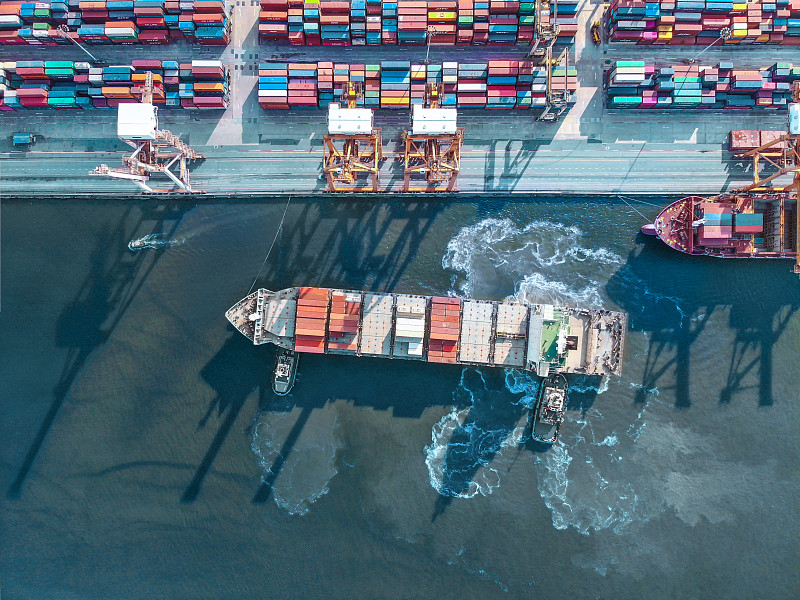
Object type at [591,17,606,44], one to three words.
work vehicle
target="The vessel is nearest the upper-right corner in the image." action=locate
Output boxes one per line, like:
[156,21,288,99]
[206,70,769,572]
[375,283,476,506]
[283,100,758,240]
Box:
[641,194,794,259]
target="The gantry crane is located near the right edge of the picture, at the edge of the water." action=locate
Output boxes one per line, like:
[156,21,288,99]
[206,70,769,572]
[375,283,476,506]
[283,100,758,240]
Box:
[729,80,800,277]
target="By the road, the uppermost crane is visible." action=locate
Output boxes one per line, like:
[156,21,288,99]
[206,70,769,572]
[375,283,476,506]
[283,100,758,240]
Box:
[524,0,559,55]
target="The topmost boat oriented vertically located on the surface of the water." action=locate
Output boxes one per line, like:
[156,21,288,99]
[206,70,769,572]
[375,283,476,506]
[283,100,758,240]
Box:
[273,349,301,398]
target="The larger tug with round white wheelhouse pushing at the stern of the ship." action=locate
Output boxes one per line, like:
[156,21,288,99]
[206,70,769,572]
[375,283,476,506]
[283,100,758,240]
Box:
[533,375,570,445]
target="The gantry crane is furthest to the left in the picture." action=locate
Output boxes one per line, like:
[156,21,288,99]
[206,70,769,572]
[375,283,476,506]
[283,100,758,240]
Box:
[82,79,207,191]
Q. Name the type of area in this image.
port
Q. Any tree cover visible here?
No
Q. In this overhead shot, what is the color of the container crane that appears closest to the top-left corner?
white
